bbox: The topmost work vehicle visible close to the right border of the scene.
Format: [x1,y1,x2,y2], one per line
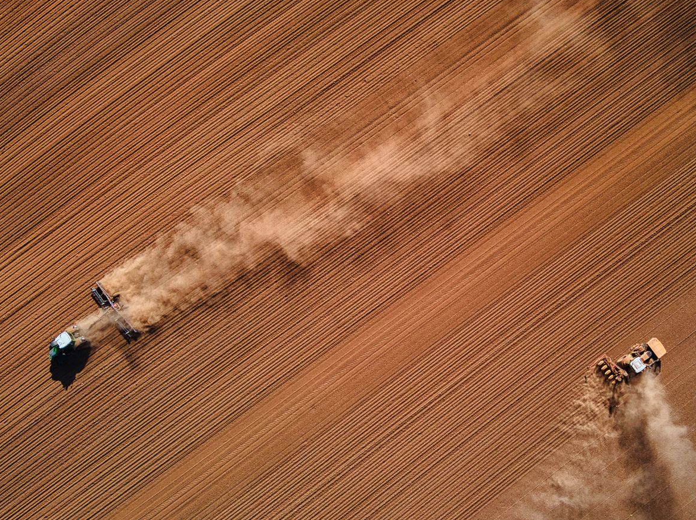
[617,340,664,379]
